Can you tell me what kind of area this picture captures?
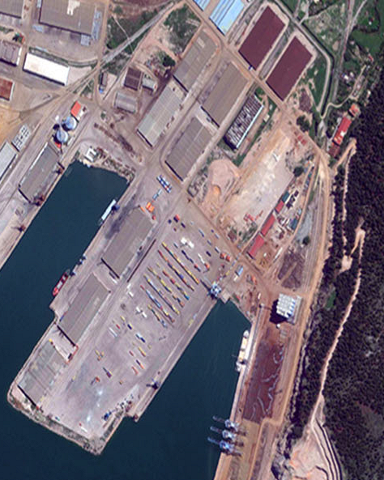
port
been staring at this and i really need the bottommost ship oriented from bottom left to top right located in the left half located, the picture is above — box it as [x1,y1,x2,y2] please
[54,270,70,293]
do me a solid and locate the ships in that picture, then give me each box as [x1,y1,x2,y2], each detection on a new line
[54,270,70,293]
[102,200,116,220]
[236,330,250,371]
